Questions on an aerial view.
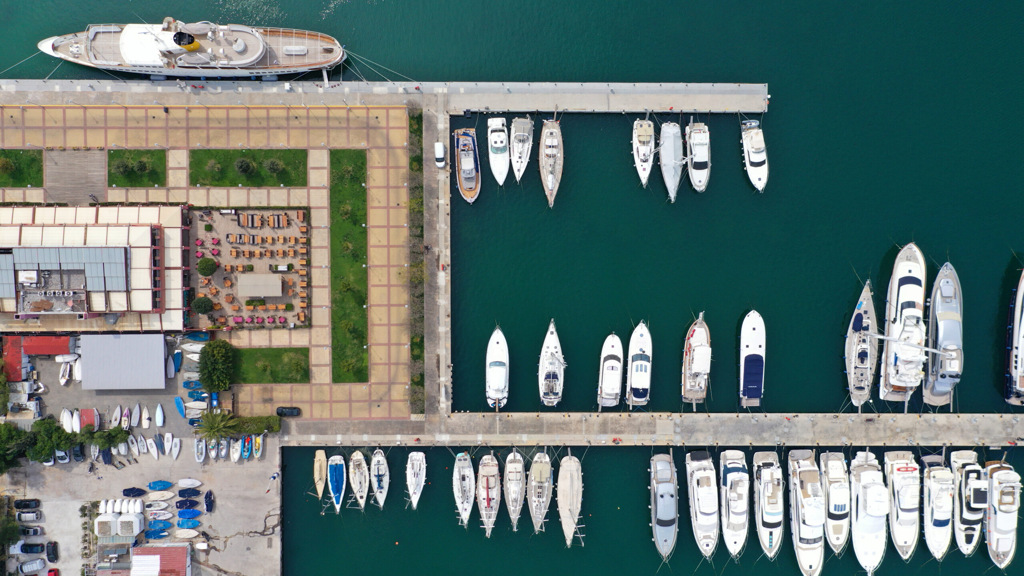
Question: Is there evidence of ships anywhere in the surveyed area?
Yes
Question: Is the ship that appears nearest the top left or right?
left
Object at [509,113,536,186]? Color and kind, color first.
white boat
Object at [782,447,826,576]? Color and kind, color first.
white boat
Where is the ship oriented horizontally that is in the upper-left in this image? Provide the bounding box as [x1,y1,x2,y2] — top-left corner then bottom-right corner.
[1,11,418,87]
